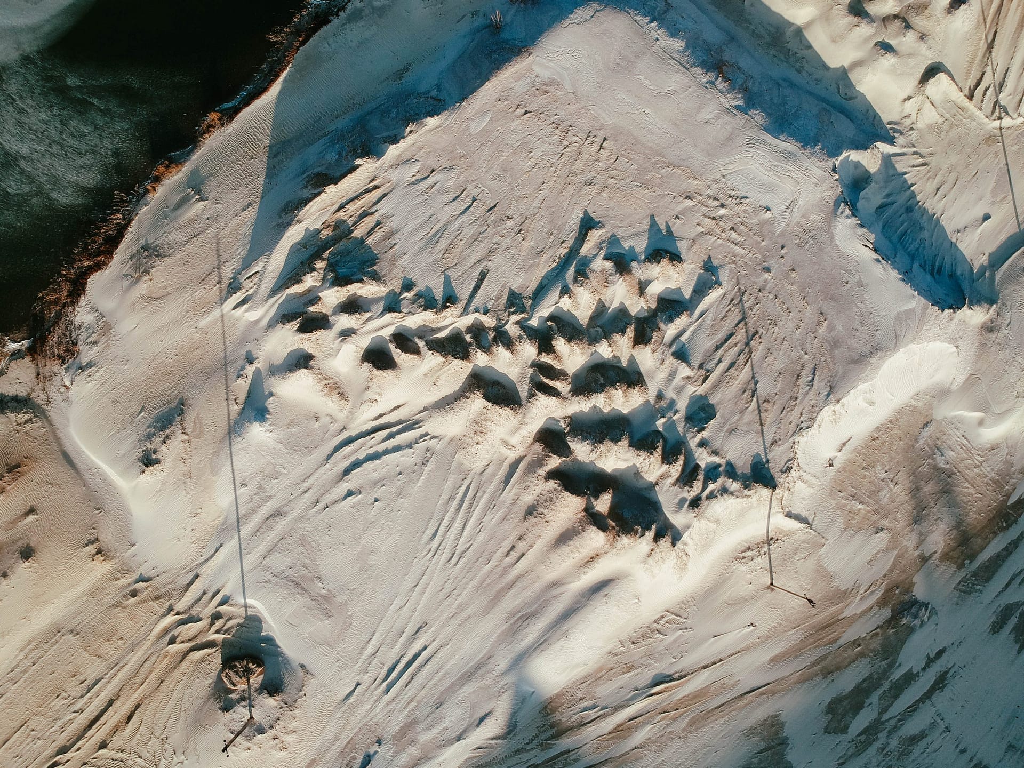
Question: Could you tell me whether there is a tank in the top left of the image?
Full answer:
No, the scene shows no tank in the top left of the image.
